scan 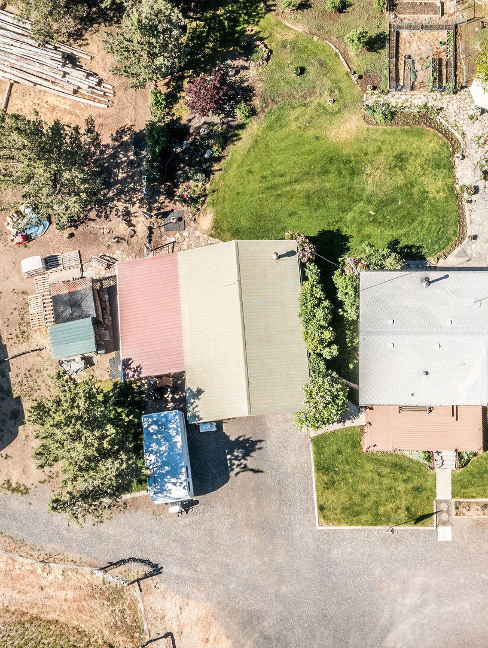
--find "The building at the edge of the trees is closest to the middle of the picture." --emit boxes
[115,240,313,429]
